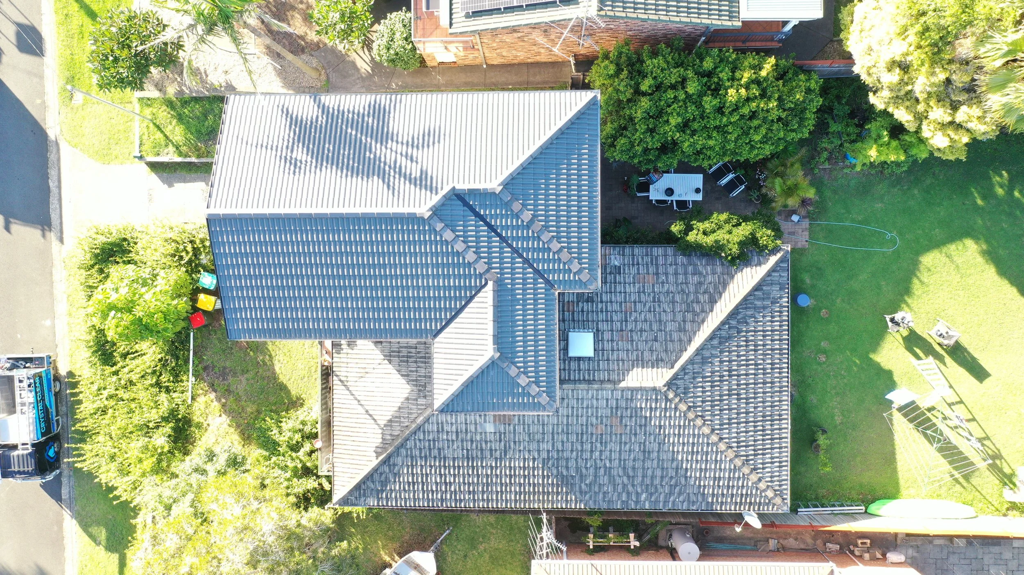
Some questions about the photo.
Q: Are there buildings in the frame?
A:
Yes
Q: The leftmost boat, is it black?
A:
No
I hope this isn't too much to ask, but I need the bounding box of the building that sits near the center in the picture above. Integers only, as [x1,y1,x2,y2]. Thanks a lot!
[200,88,792,515]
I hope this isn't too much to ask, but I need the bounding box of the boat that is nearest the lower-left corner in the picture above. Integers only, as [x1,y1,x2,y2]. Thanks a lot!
[378,526,453,575]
